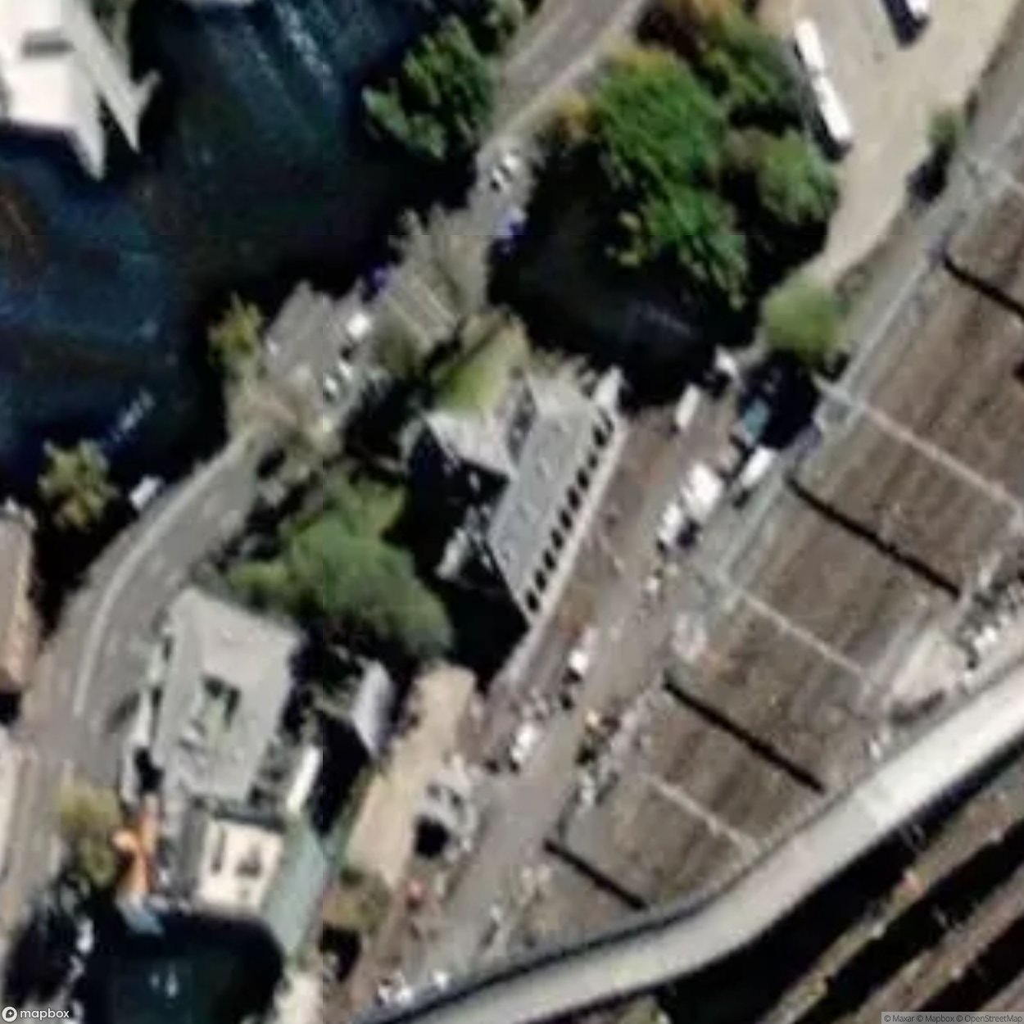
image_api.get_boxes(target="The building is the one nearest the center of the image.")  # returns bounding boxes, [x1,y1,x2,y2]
[424,373,622,622]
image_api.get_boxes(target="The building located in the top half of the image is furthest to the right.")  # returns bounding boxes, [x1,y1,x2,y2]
[600,366,626,417]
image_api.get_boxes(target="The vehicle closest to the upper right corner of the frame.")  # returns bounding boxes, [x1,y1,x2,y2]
[903,0,928,22]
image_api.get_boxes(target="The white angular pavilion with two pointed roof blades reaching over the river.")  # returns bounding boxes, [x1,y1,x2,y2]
[0,0,161,180]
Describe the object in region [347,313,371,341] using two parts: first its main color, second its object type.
white vehicle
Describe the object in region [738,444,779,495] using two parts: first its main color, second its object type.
white truck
